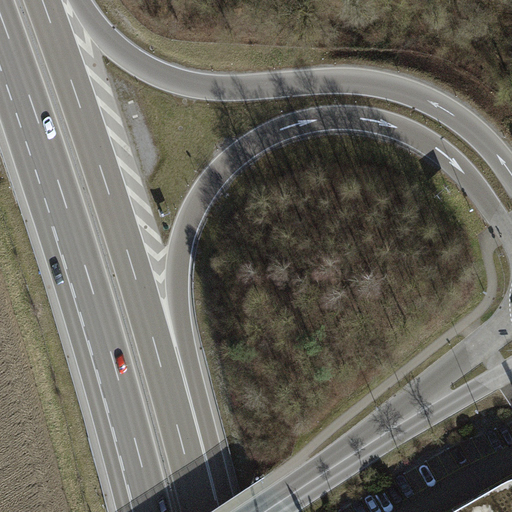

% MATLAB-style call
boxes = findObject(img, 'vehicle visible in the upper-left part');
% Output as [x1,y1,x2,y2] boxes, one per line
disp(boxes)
[42,116,56,140]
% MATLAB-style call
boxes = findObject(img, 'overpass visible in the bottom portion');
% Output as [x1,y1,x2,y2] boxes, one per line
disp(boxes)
[212,454,332,512]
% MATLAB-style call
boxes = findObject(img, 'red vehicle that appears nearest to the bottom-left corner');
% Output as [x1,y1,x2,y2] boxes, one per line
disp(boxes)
[115,354,128,375]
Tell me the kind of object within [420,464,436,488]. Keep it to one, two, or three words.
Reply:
car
